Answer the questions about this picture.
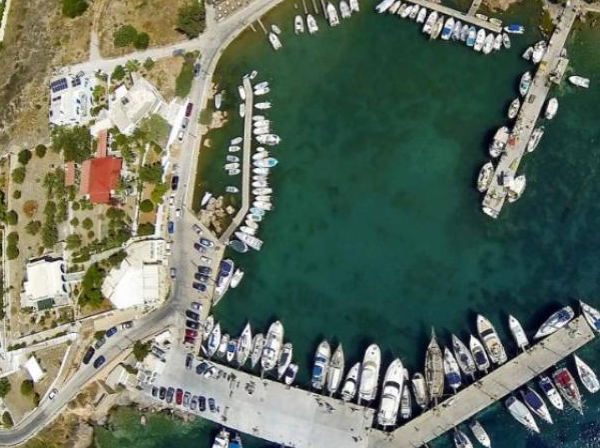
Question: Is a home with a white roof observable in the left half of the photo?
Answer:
Yes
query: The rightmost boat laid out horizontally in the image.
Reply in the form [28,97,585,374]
[569,76,591,89]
